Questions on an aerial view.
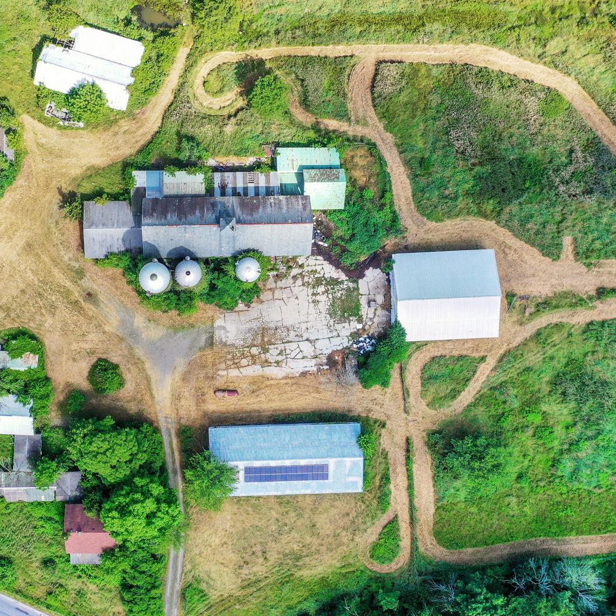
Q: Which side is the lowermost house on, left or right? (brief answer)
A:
left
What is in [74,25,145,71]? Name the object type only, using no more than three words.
barn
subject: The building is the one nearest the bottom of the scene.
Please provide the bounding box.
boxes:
[64,501,116,570]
